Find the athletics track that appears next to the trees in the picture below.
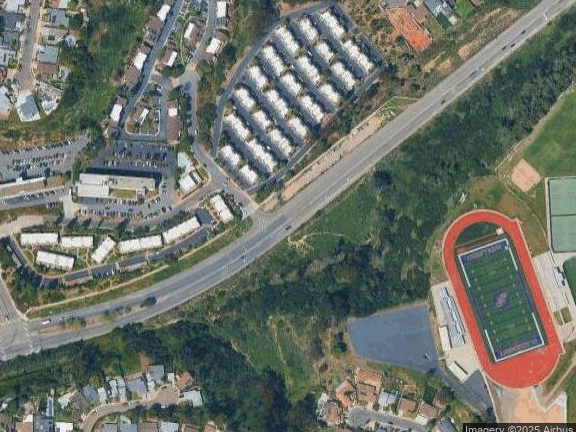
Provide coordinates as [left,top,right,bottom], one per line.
[441,209,565,390]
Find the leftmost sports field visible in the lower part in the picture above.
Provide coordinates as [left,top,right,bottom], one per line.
[455,222,548,364]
